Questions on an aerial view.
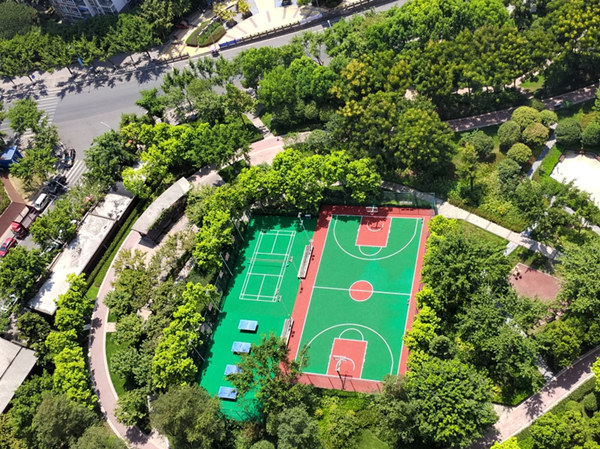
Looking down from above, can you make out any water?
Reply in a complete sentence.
No, there's no water in this view.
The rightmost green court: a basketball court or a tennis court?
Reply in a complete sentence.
What you see as the rightmost green court is a basketball court.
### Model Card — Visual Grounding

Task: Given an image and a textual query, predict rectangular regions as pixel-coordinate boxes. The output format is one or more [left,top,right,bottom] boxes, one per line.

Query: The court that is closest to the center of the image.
[239,230,295,302]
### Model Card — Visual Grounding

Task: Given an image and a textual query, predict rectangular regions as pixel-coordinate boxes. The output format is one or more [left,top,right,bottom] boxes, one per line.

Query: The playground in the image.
[549,151,600,207]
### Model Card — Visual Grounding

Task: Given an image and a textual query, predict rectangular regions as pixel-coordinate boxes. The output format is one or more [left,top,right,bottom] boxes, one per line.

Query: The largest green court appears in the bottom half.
[289,205,435,395]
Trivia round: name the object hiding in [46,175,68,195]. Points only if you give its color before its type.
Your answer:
black car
